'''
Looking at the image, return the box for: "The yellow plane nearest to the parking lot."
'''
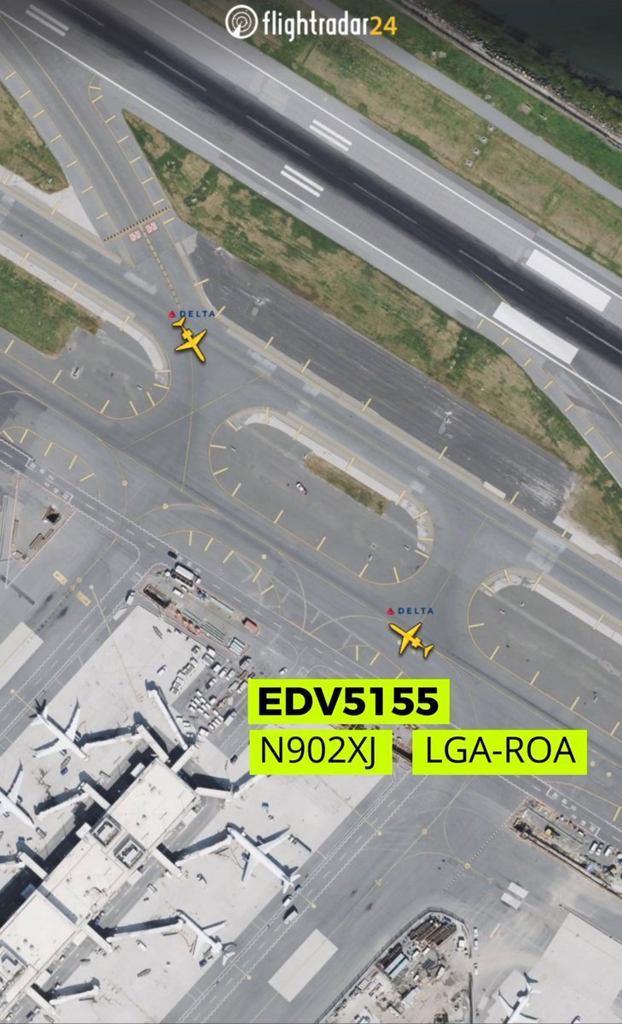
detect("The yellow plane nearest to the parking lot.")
[390,622,434,657]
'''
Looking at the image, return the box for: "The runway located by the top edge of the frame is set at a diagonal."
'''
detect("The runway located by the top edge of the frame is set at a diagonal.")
[0,0,622,403]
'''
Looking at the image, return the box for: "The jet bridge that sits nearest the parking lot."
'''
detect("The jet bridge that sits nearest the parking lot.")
[148,686,198,772]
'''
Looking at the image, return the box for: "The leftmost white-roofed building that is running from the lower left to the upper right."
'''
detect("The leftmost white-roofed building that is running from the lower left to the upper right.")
[0,757,201,1015]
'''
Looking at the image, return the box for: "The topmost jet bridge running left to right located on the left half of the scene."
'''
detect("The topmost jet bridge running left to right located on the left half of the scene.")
[81,726,170,762]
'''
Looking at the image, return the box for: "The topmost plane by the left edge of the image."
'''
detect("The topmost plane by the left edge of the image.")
[31,704,87,759]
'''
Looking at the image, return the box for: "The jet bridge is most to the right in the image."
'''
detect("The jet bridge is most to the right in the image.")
[195,771,270,803]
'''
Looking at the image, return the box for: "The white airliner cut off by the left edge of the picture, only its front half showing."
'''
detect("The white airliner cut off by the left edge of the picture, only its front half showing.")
[0,772,34,826]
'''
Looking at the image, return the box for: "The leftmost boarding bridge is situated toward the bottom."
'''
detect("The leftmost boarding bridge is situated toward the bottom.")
[0,852,46,878]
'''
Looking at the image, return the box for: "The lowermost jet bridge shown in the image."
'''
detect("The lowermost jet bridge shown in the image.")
[27,985,103,1015]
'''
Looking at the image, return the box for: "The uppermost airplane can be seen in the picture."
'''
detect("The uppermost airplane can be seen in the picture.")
[172,317,207,362]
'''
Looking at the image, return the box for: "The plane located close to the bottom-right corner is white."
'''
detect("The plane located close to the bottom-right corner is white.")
[494,981,538,1024]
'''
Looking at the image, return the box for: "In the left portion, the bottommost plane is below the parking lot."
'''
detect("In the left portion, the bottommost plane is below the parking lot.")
[180,915,235,966]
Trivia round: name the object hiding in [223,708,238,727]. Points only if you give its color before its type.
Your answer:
white vehicle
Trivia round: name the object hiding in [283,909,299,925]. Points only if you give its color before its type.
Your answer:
white vehicle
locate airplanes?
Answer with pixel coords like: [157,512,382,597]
[390,622,434,657]
[180,915,235,966]
[31,704,87,759]
[228,828,301,894]
[172,317,207,362]
[0,772,34,826]
[494,981,538,1024]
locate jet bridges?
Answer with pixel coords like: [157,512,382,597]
[0,852,46,878]
[81,726,170,762]
[148,686,198,772]
[153,834,236,876]
[195,771,270,803]
[27,985,103,1015]
[83,918,183,953]
[34,783,111,821]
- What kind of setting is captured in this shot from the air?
airport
